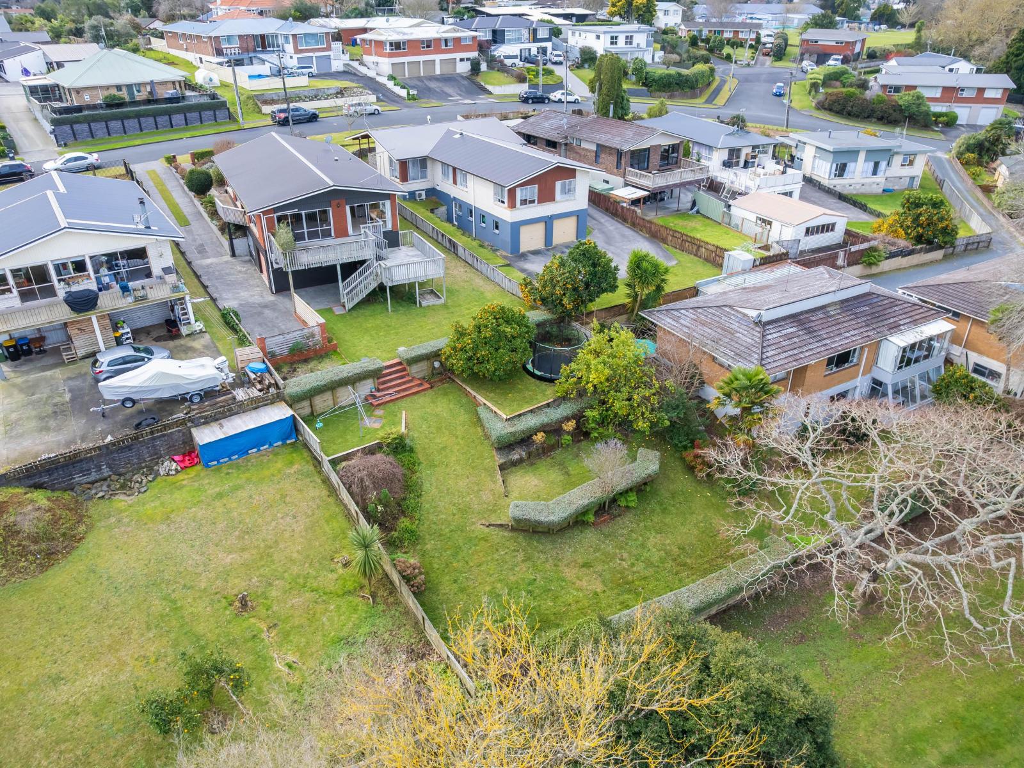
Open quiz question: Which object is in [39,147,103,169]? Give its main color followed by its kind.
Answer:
white car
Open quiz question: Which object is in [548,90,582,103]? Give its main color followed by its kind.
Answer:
white vehicle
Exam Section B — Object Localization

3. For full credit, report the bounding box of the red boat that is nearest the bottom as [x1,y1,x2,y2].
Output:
[159,446,202,465]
